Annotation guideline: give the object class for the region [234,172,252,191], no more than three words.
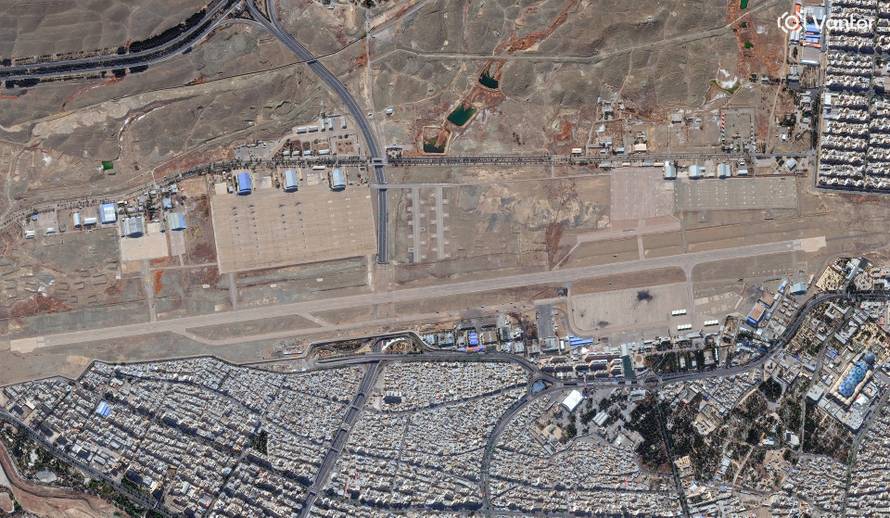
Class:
hangar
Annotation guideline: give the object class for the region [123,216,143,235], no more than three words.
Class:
hangar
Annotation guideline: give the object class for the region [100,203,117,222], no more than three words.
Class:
building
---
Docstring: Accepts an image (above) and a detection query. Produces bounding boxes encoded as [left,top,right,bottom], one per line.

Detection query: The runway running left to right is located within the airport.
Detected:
[10,236,827,353]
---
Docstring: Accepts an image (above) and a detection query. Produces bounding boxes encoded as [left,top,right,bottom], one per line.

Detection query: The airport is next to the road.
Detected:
[10,162,827,353]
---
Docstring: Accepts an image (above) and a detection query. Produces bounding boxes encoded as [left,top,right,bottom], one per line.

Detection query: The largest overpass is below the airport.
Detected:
[322,353,395,367]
